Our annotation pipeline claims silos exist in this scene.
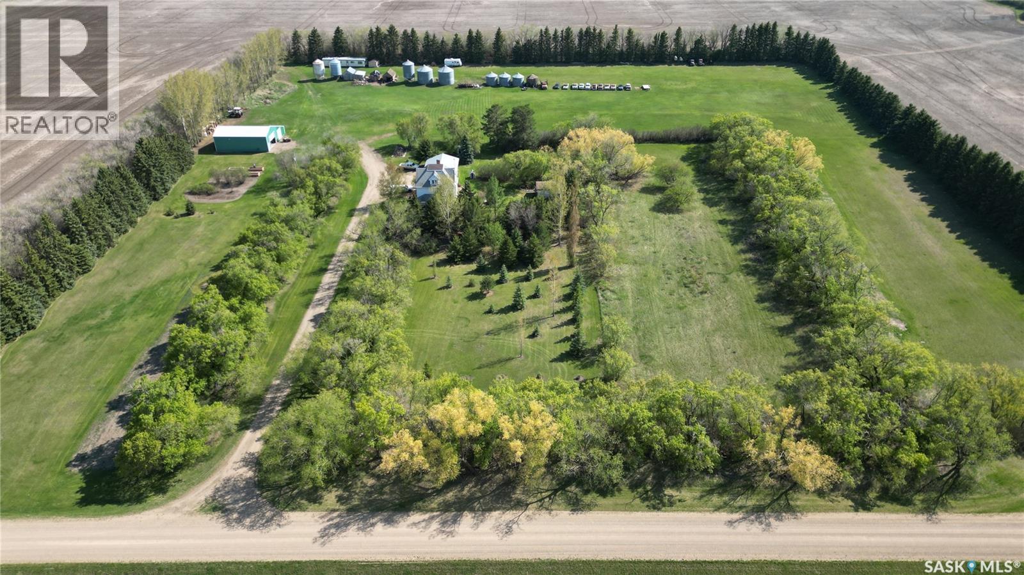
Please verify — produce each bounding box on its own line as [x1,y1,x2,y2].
[438,63,454,84]
[417,63,433,84]
[486,70,498,86]
[512,70,524,86]
[402,57,415,79]
[311,55,325,78]
[499,70,511,86]
[329,54,342,75]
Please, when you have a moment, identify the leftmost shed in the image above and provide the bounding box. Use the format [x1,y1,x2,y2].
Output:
[211,124,281,153]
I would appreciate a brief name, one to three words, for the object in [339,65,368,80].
shed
